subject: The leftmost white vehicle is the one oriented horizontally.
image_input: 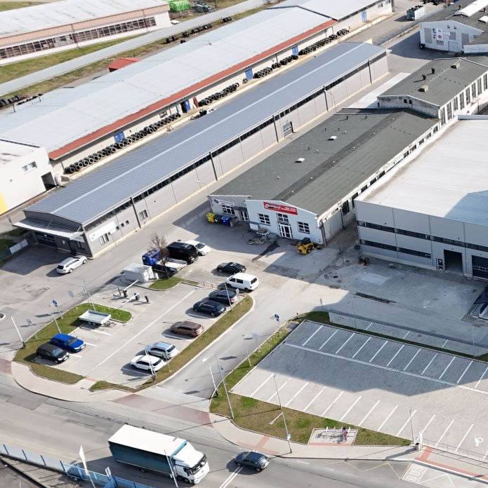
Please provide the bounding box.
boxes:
[53,257,90,274]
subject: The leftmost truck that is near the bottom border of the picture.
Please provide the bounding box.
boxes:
[109,424,214,486]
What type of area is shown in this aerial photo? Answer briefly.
industrial area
